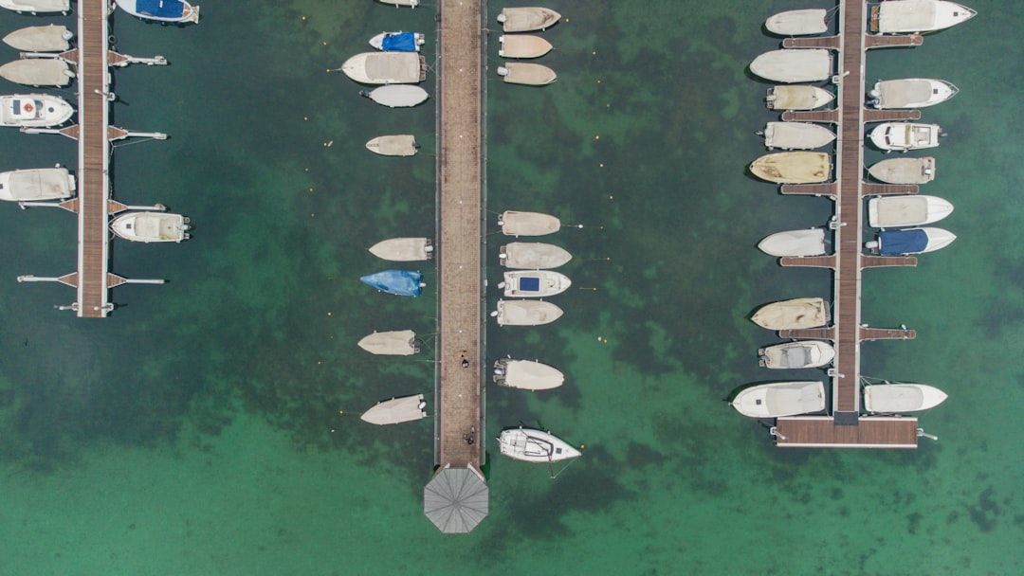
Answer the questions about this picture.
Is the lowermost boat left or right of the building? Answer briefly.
right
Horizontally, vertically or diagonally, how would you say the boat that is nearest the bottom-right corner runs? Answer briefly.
horizontally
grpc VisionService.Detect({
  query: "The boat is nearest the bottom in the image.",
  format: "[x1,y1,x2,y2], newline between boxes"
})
[497,426,582,477]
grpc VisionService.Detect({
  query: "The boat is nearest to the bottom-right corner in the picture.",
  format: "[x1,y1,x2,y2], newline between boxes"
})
[859,380,949,416]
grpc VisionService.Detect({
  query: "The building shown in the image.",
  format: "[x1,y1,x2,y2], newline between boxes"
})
[424,461,489,534]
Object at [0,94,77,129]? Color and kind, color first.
white boat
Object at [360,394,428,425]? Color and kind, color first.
white boat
